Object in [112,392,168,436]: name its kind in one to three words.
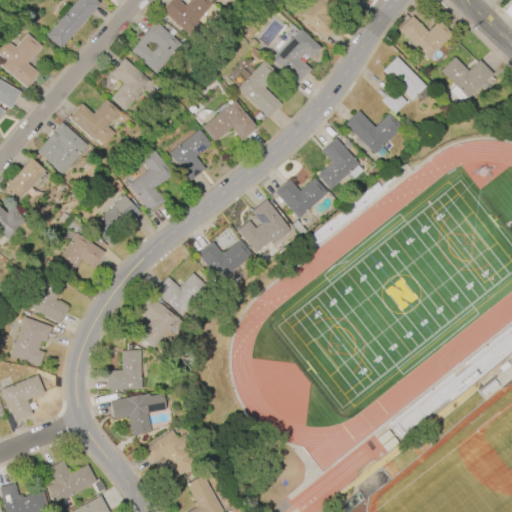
house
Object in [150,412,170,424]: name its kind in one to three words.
swimming pool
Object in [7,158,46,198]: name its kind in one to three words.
house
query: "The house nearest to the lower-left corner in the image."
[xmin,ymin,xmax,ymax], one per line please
[2,484,46,512]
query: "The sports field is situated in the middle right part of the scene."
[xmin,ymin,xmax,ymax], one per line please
[266,168,512,419]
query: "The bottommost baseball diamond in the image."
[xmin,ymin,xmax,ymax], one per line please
[371,389,512,512]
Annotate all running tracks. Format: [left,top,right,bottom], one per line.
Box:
[226,135,512,472]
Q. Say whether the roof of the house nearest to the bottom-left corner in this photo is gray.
Yes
